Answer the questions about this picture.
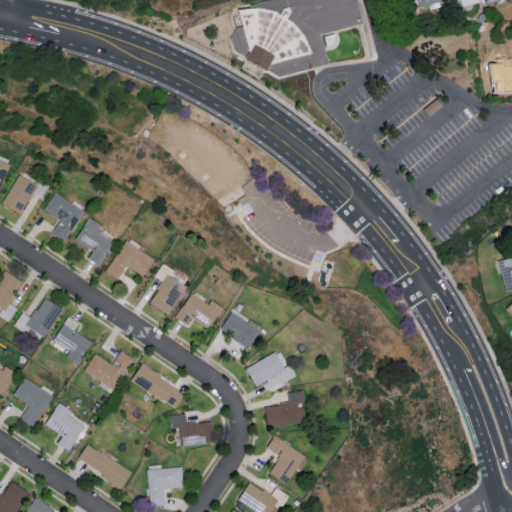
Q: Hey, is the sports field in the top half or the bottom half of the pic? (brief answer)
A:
top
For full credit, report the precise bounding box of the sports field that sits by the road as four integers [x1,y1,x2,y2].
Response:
[148,112,252,207]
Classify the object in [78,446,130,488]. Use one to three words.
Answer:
house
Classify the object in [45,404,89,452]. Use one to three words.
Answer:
house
